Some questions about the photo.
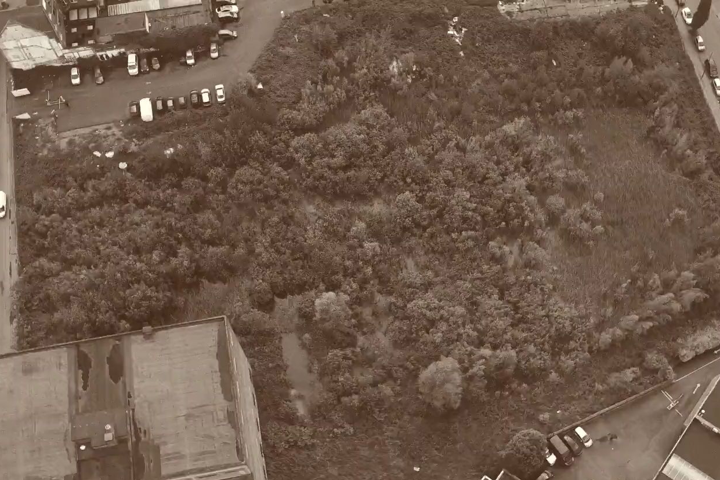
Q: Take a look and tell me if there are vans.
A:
Yes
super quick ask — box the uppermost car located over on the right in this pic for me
[681,9,694,24]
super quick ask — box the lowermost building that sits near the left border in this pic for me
[0,315,261,480]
